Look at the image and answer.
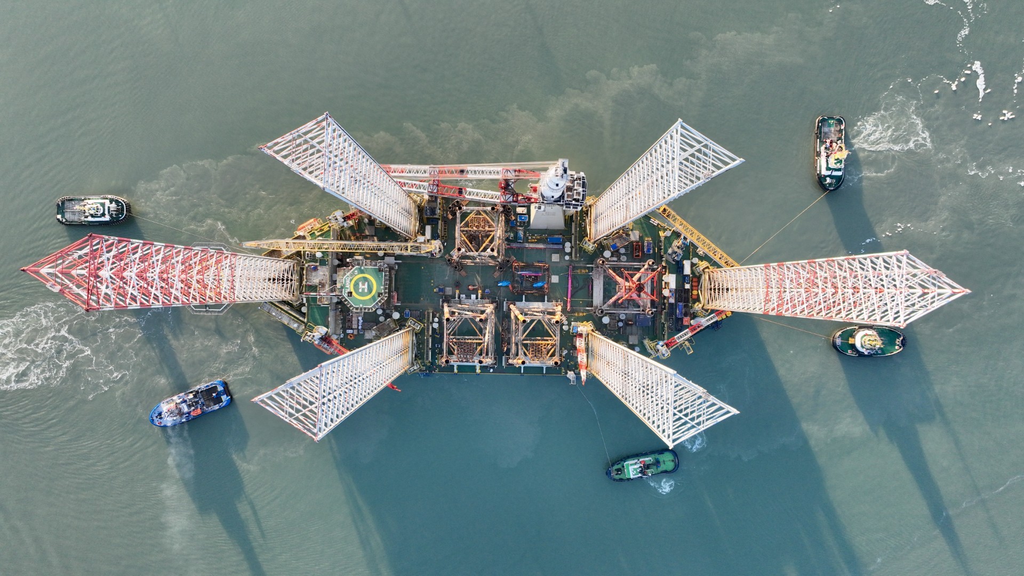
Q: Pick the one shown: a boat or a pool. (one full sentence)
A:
I can see a boat in this picture.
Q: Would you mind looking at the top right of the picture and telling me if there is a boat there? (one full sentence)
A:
Yes, at the top right of the picture there is a boat.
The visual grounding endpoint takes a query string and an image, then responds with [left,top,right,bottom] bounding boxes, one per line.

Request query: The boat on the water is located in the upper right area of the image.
[812,115,849,192]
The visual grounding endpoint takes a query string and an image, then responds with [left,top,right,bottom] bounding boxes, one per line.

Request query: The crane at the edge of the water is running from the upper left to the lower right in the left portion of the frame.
[303,323,402,392]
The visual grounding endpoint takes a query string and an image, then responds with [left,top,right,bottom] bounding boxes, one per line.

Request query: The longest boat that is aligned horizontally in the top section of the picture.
[56,195,135,225]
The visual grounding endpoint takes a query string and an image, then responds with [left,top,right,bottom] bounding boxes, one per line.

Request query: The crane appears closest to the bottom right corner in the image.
[643,304,737,359]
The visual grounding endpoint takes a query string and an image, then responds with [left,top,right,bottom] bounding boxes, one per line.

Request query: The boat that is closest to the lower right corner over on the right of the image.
[830,325,907,357]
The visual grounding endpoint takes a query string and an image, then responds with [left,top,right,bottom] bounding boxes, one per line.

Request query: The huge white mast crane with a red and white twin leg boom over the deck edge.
[314,159,588,230]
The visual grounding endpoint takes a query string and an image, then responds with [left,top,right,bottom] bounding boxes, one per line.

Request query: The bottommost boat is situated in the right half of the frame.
[605,449,679,481]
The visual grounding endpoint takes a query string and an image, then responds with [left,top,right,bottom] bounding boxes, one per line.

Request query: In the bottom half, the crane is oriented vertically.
[572,321,587,387]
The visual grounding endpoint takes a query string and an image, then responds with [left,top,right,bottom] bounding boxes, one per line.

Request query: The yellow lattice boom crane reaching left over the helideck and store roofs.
[240,239,445,257]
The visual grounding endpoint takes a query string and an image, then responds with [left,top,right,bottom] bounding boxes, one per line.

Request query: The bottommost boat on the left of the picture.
[149,378,234,427]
